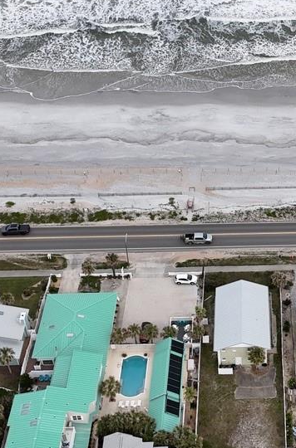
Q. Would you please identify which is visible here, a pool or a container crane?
pool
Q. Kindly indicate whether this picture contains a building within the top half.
No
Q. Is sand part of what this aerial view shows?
Yes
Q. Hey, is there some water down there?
Yes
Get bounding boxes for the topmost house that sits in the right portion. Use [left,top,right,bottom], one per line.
[214,281,274,362]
